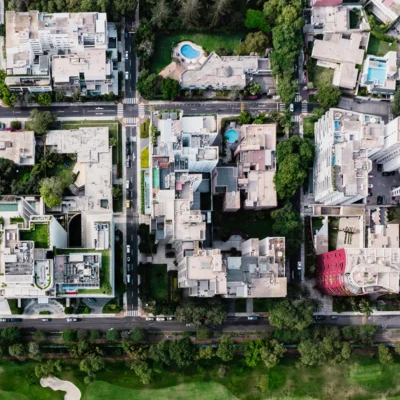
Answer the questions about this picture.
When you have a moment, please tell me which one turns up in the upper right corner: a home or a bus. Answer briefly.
home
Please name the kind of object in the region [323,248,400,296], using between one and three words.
building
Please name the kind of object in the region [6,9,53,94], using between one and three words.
building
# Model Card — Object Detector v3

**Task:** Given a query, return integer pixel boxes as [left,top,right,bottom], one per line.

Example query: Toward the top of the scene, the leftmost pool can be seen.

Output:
[180,42,202,59]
